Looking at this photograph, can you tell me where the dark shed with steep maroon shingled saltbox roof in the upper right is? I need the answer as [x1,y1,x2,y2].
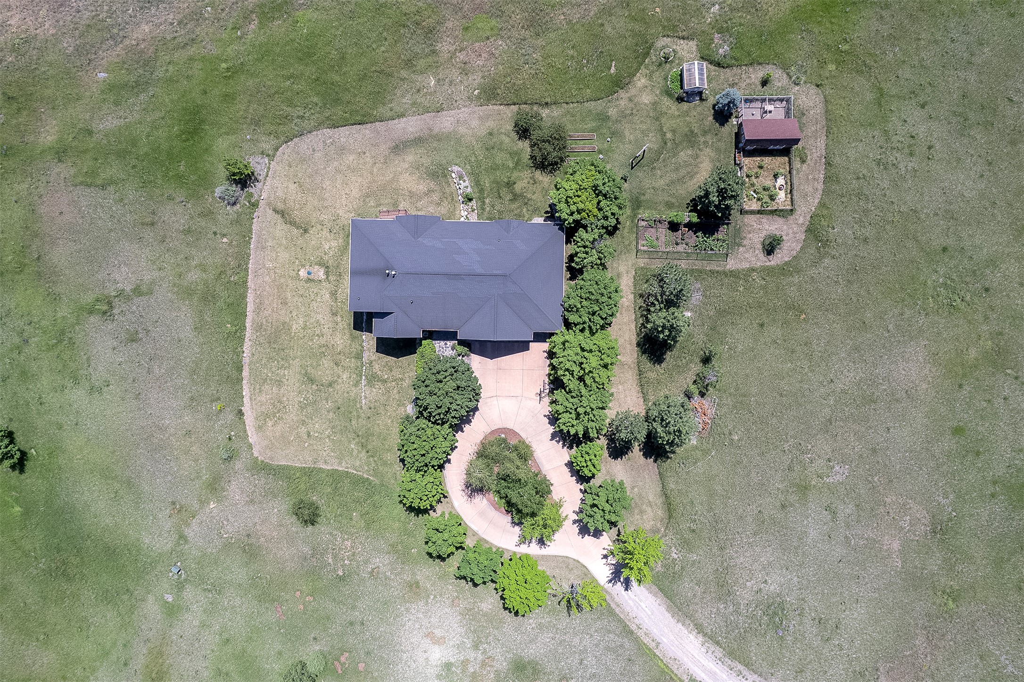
[739,119,801,149]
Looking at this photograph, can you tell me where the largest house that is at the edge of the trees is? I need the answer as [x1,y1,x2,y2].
[348,214,566,341]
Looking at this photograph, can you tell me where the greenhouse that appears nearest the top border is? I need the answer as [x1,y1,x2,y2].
[681,61,707,94]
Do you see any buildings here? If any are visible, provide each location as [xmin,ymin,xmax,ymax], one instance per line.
[681,61,707,94]
[348,214,566,341]
[739,119,801,149]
